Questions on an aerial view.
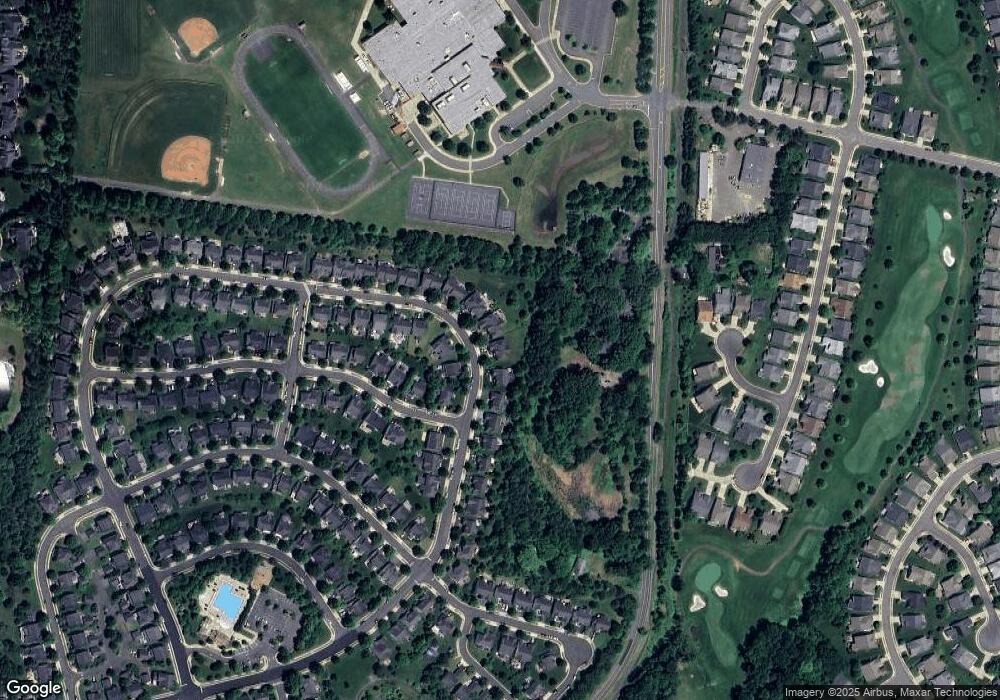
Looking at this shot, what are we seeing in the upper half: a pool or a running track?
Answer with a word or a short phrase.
running track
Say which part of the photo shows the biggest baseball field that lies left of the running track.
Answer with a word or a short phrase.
top left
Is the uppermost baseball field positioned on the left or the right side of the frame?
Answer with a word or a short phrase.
left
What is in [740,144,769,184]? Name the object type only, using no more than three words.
building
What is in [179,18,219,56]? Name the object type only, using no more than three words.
baseball field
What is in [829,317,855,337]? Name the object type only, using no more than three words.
house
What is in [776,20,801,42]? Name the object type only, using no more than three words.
house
